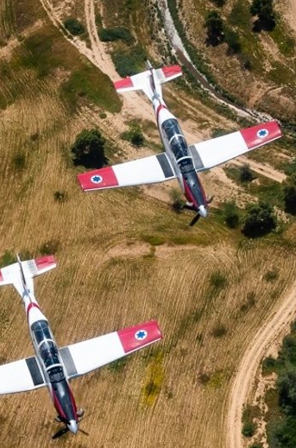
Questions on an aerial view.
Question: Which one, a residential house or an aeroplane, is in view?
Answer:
aeroplane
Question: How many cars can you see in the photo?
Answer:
0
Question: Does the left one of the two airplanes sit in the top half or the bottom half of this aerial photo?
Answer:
bottom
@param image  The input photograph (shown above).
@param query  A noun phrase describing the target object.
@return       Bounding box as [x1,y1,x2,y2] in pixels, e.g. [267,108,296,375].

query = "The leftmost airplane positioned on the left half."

[0,255,163,442]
